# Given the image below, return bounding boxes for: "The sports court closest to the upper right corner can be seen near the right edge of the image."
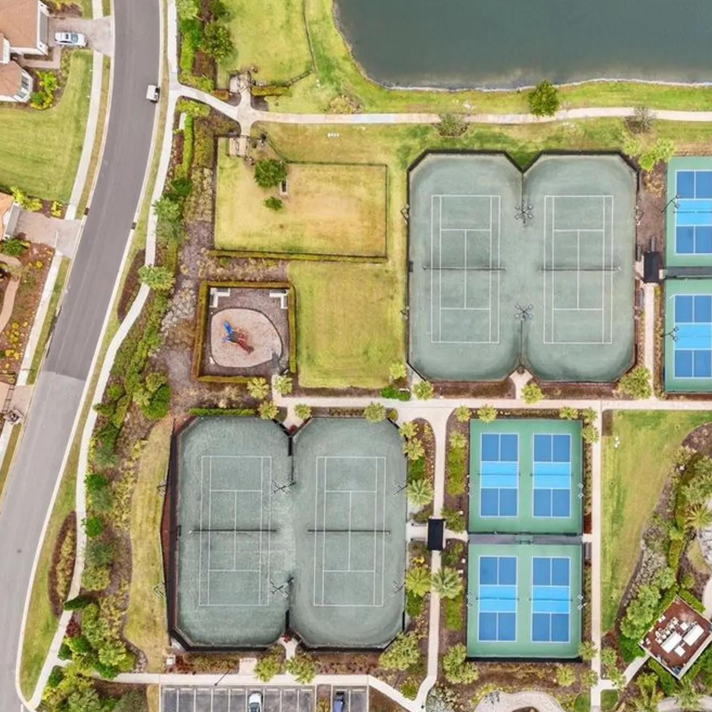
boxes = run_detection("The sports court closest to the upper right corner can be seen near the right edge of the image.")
[665,157,712,267]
